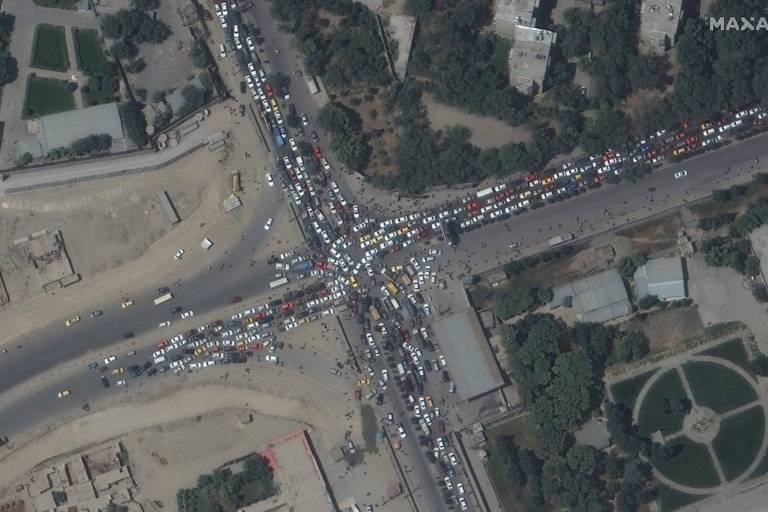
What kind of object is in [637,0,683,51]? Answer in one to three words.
building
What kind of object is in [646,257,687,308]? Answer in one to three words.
shed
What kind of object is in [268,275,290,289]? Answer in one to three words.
vehicle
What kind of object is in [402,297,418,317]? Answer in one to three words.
vehicle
